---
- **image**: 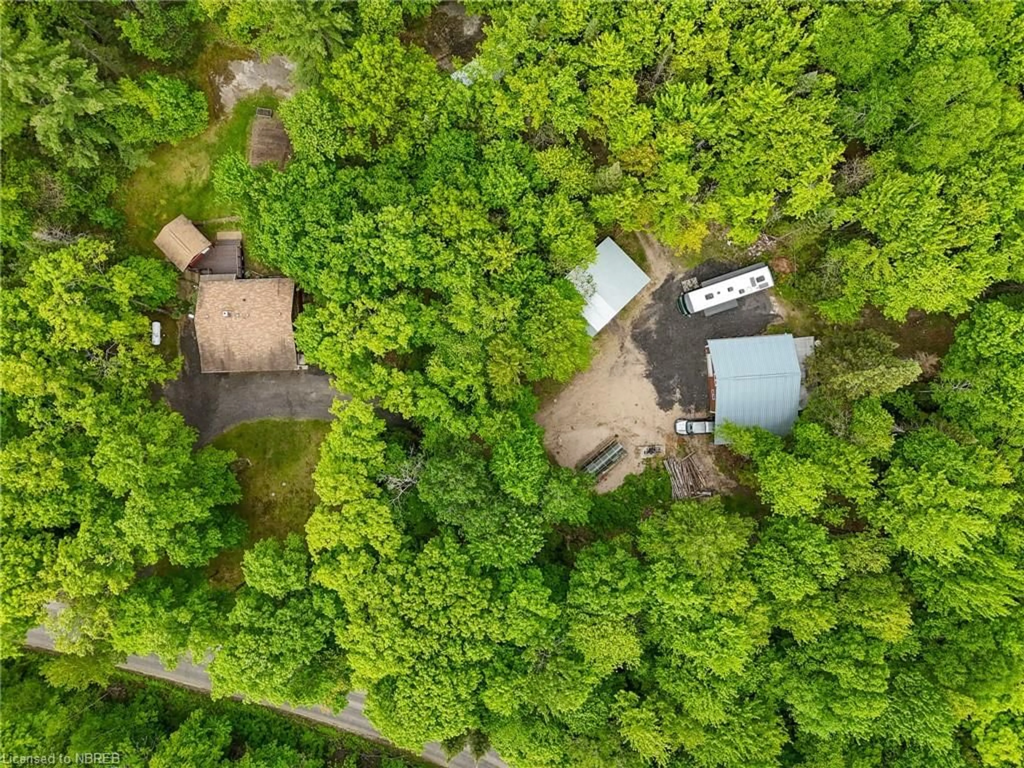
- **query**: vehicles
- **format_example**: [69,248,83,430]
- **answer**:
[673,416,713,436]
[670,261,775,319]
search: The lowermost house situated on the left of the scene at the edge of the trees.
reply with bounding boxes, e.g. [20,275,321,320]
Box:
[188,273,300,373]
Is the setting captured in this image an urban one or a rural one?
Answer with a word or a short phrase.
rural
